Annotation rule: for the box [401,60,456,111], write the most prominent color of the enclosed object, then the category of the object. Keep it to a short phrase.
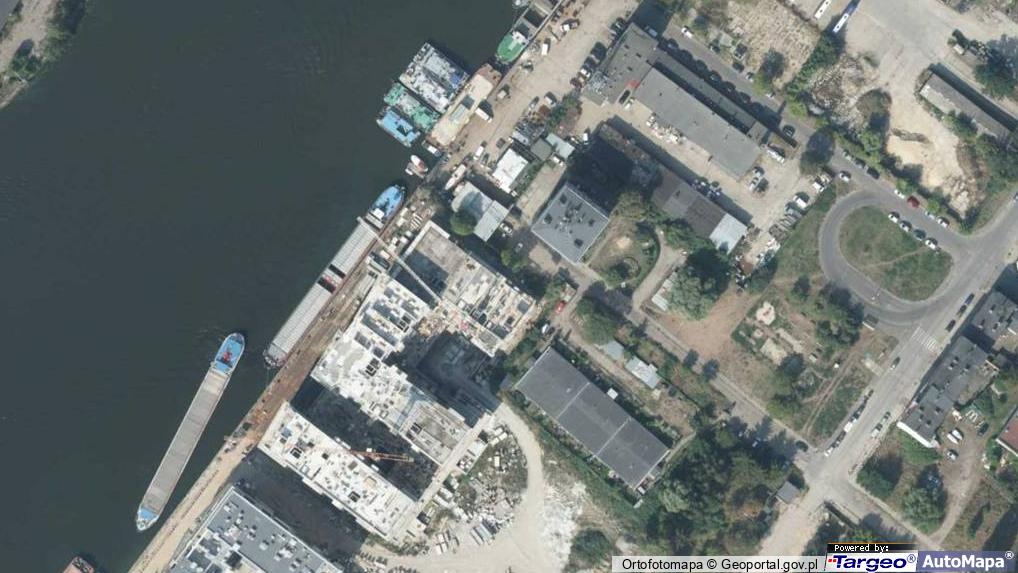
white boat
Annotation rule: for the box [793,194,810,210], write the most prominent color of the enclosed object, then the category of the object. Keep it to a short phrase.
white vehicle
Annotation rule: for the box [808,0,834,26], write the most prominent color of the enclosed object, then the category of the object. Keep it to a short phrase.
white bus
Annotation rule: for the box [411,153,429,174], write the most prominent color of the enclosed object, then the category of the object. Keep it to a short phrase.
white boat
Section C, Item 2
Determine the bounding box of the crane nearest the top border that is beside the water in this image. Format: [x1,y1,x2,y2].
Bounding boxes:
[357,218,453,316]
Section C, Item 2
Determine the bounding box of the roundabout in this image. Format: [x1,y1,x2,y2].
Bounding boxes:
[821,187,974,326]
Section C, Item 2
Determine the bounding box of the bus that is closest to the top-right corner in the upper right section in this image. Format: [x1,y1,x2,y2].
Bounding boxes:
[831,0,862,32]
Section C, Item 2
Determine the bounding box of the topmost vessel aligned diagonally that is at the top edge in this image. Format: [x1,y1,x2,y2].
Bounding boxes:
[496,0,563,60]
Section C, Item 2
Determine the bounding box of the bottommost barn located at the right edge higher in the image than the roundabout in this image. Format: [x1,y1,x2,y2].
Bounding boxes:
[920,73,1018,154]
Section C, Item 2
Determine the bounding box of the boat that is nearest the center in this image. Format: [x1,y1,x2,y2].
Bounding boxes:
[446,164,468,190]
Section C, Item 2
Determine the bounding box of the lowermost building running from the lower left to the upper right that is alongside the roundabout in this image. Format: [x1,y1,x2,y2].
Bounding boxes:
[890,335,989,444]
